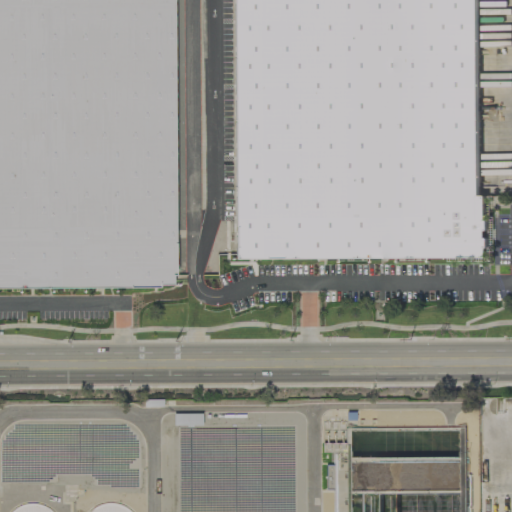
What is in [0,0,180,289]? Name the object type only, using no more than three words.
warehouse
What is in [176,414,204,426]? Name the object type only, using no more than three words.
shed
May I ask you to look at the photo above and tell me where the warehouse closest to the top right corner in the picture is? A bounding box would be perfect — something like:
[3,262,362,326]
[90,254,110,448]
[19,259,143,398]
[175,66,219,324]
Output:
[237,0,485,259]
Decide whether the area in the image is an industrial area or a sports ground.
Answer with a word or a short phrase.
industrial area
